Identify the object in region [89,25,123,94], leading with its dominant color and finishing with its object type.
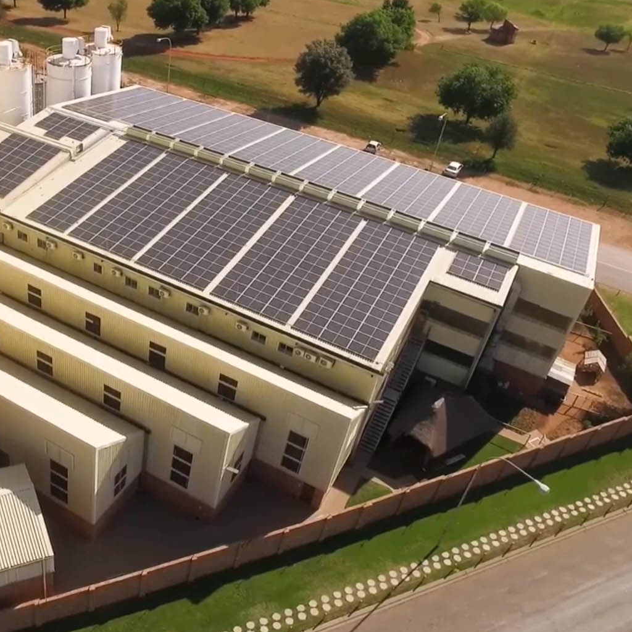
white silo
